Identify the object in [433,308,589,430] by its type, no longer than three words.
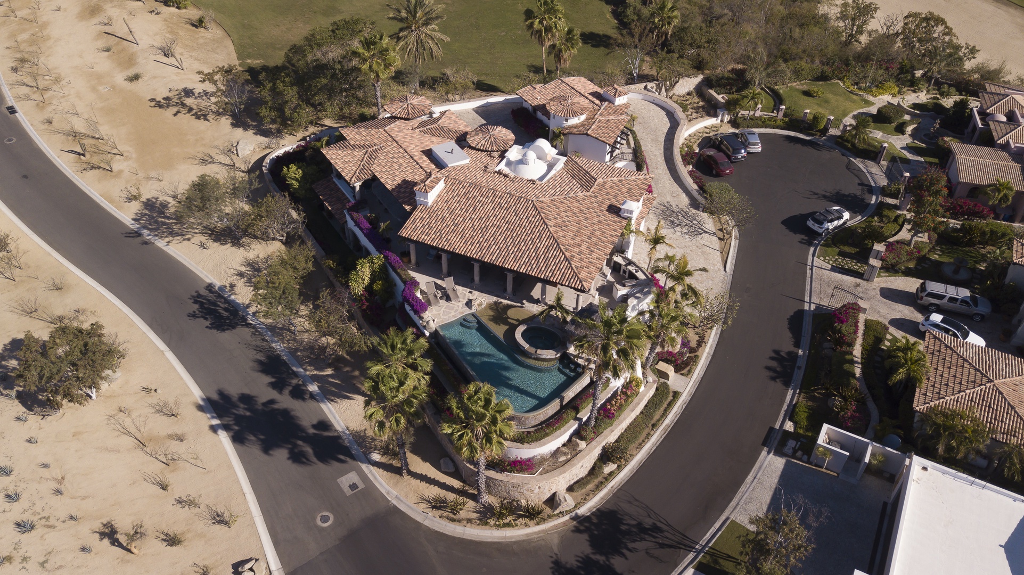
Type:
swimming pool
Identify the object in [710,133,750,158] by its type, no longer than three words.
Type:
car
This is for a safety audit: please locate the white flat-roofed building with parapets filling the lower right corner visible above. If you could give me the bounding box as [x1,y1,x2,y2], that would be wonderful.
[879,454,1024,575]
